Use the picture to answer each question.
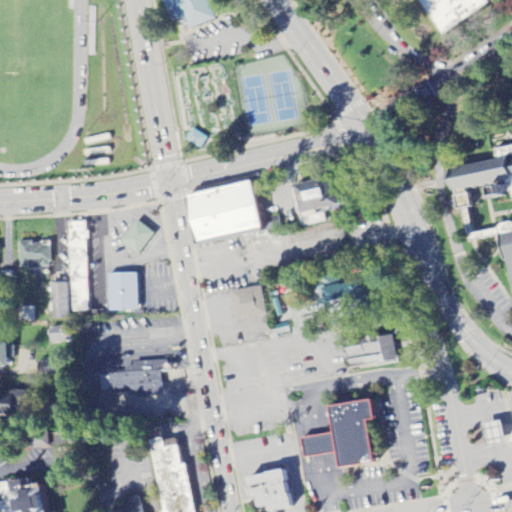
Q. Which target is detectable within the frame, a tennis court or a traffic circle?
tennis court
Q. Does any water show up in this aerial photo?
No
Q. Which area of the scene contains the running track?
top left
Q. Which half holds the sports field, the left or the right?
left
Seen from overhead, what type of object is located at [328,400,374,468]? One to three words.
building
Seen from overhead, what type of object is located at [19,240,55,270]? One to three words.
house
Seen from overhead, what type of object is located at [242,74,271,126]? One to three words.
tennis court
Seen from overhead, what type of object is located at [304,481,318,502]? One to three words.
vehicle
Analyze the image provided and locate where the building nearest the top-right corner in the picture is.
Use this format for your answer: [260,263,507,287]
[421,0,490,33]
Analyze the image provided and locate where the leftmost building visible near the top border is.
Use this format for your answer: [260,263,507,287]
[170,0,218,30]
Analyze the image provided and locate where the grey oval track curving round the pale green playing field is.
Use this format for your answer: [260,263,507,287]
[0,0,90,178]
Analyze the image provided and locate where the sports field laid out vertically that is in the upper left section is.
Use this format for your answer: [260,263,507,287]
[0,0,75,164]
